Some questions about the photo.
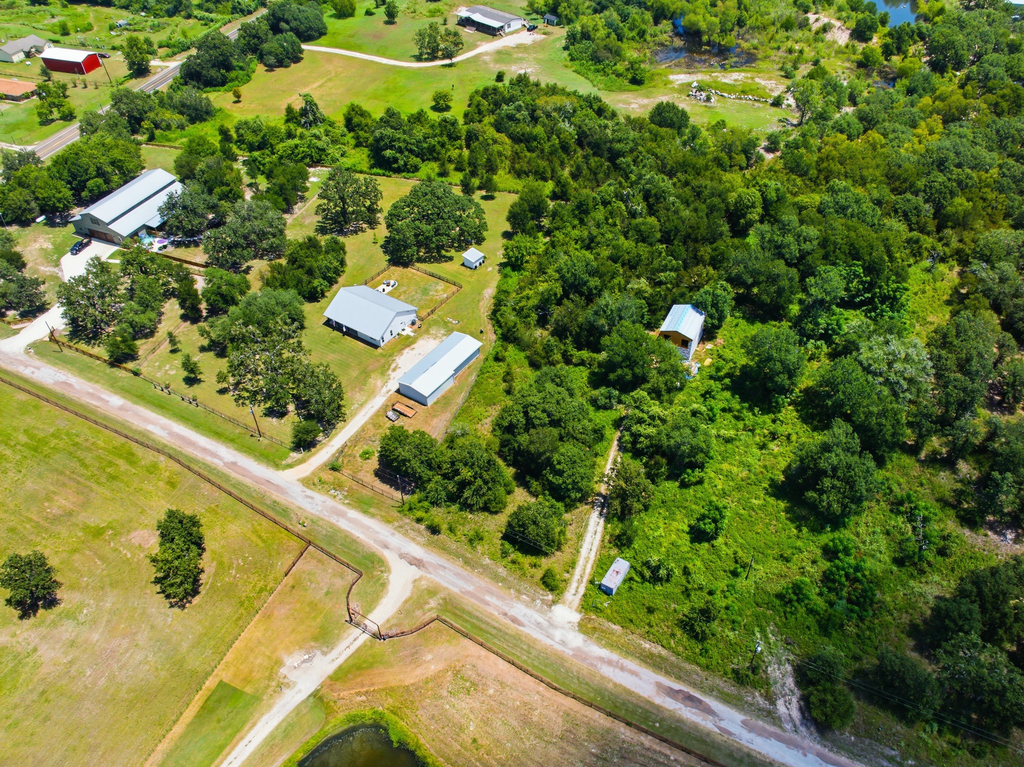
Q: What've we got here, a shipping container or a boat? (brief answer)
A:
shipping container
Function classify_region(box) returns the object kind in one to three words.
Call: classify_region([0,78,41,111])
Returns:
house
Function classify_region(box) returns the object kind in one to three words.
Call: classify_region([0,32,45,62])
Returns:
house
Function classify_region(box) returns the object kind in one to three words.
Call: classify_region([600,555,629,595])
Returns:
shipping container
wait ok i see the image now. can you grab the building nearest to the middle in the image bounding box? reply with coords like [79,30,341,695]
[397,332,483,405]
